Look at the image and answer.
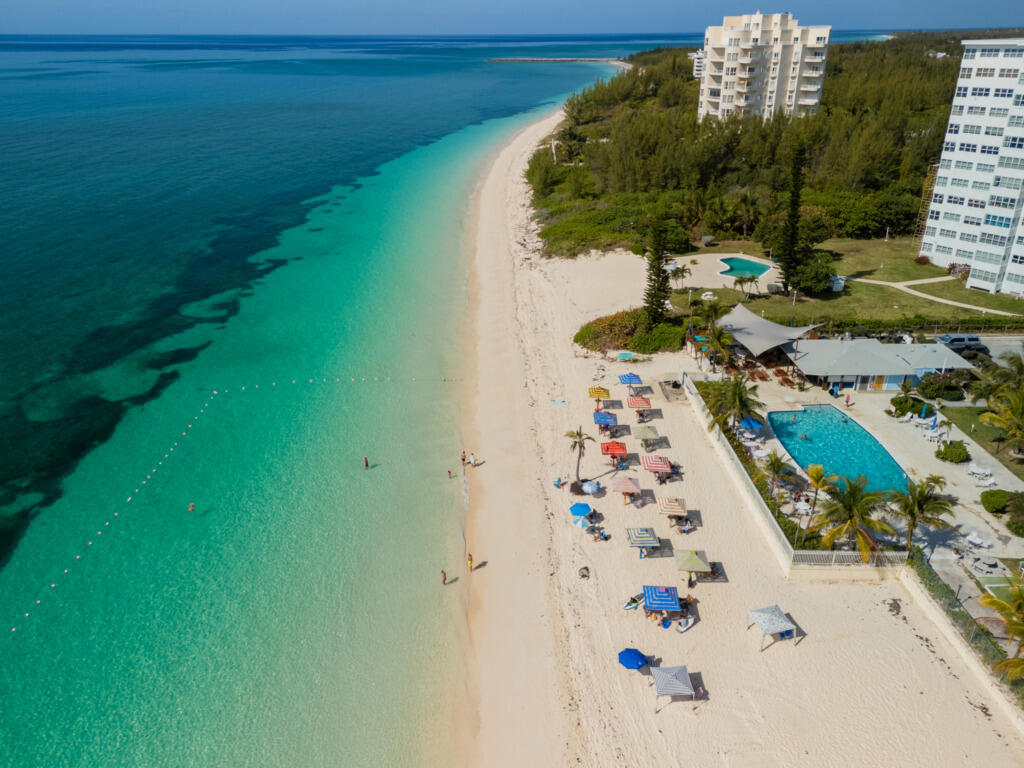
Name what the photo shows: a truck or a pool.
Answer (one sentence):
There is a pool in the scene.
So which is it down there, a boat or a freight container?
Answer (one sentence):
It is a boat that can be seen here.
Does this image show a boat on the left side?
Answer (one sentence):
No, no boat appears on the left side.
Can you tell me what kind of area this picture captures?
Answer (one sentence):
This looks like a beach.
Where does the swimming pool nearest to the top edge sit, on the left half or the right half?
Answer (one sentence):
The swimming pool nearest to the top edge sits on the right side.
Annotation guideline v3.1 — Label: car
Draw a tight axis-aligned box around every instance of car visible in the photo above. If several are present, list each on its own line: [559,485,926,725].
[935,330,983,348]
[951,339,995,355]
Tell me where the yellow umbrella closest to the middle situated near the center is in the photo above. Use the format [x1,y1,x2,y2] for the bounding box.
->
[587,386,609,410]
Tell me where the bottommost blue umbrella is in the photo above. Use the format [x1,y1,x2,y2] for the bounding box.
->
[618,646,649,687]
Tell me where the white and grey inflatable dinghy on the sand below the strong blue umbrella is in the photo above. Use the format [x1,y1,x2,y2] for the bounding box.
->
[674,608,698,632]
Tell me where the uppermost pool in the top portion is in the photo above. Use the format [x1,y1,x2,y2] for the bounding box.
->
[717,255,773,277]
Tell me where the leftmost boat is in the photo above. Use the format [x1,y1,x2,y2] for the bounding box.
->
[624,592,643,613]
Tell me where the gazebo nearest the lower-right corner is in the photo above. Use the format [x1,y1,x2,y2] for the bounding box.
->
[745,603,802,653]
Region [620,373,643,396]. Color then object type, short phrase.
blue umbrella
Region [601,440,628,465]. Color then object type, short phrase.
red umbrella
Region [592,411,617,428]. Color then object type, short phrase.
blue umbrella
